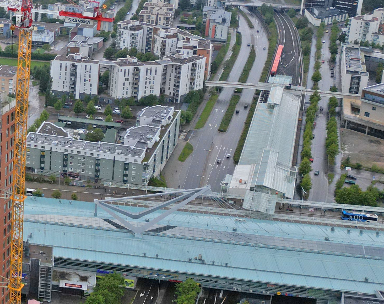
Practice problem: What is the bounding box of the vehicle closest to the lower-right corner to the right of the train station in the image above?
[341,210,380,223]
